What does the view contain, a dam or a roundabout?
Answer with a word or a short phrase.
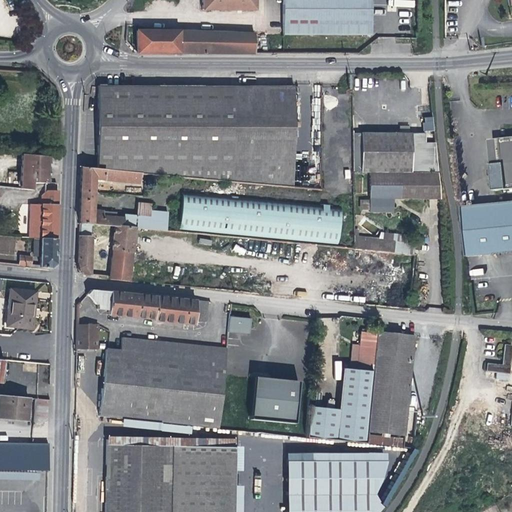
roundabout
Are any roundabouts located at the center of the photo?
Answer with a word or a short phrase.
No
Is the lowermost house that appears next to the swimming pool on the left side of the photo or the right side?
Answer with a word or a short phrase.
right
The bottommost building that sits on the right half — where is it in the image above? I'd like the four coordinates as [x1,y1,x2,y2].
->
[288,452,388,512]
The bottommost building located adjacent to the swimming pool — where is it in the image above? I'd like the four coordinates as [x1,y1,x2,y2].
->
[355,232,412,255]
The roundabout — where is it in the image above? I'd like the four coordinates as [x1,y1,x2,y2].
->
[42,22,96,76]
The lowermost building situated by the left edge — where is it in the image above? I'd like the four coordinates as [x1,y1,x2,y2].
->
[0,441,50,480]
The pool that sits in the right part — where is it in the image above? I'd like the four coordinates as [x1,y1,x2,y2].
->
[358,217,384,233]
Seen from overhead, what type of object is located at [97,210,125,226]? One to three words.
shed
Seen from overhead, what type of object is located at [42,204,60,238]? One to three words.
house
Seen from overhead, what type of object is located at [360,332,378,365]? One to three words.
house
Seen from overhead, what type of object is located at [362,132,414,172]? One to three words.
building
